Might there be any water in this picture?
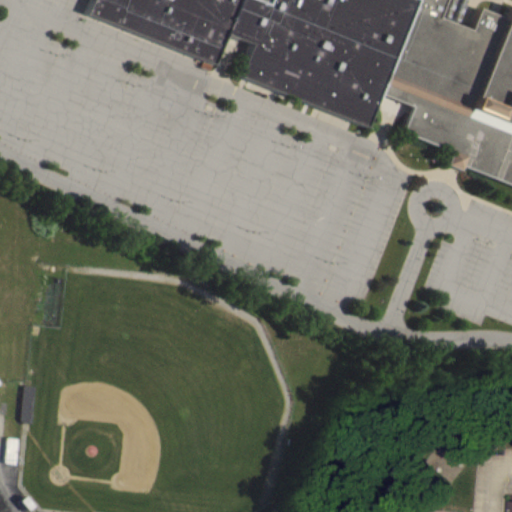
No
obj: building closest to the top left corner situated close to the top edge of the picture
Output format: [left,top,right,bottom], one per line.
[84,0,244,66]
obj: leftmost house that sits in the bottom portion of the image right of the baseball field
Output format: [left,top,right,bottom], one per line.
[428,452,465,484]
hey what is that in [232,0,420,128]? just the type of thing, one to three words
building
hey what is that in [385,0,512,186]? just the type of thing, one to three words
building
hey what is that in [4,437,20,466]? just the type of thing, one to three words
shed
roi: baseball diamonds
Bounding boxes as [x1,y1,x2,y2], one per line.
[26,276,281,512]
